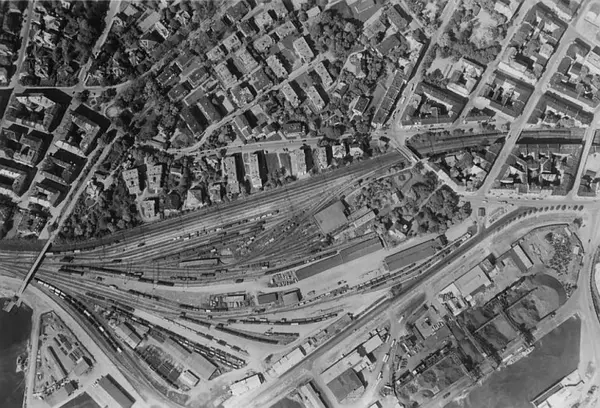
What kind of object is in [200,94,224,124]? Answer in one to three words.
building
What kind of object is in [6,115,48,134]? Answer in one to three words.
building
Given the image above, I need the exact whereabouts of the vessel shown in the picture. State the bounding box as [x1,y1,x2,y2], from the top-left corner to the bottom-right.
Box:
[509,347,536,366]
